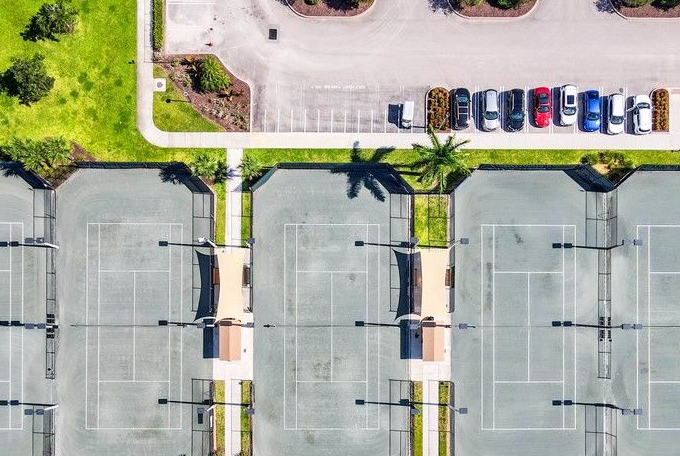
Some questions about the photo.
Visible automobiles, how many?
8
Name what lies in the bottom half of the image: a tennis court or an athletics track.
tennis court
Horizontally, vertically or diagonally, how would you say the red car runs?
vertically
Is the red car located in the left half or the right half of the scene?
right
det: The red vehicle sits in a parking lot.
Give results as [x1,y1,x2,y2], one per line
[534,87,554,126]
